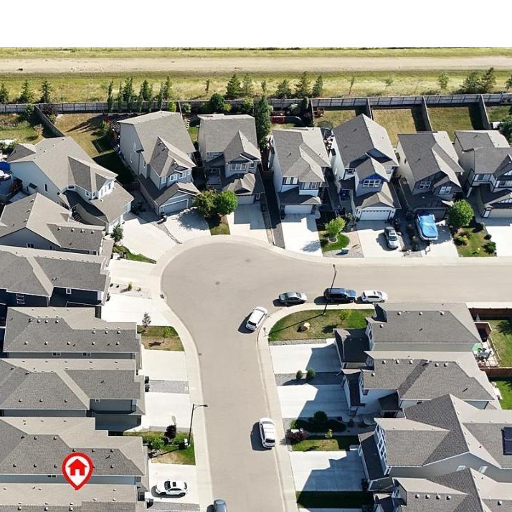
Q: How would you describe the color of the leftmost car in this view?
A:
white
